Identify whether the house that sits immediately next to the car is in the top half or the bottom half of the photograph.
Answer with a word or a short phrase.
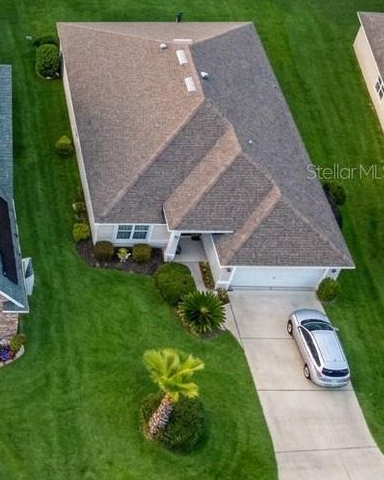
top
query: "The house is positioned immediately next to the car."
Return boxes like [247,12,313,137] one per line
[56,21,356,289]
